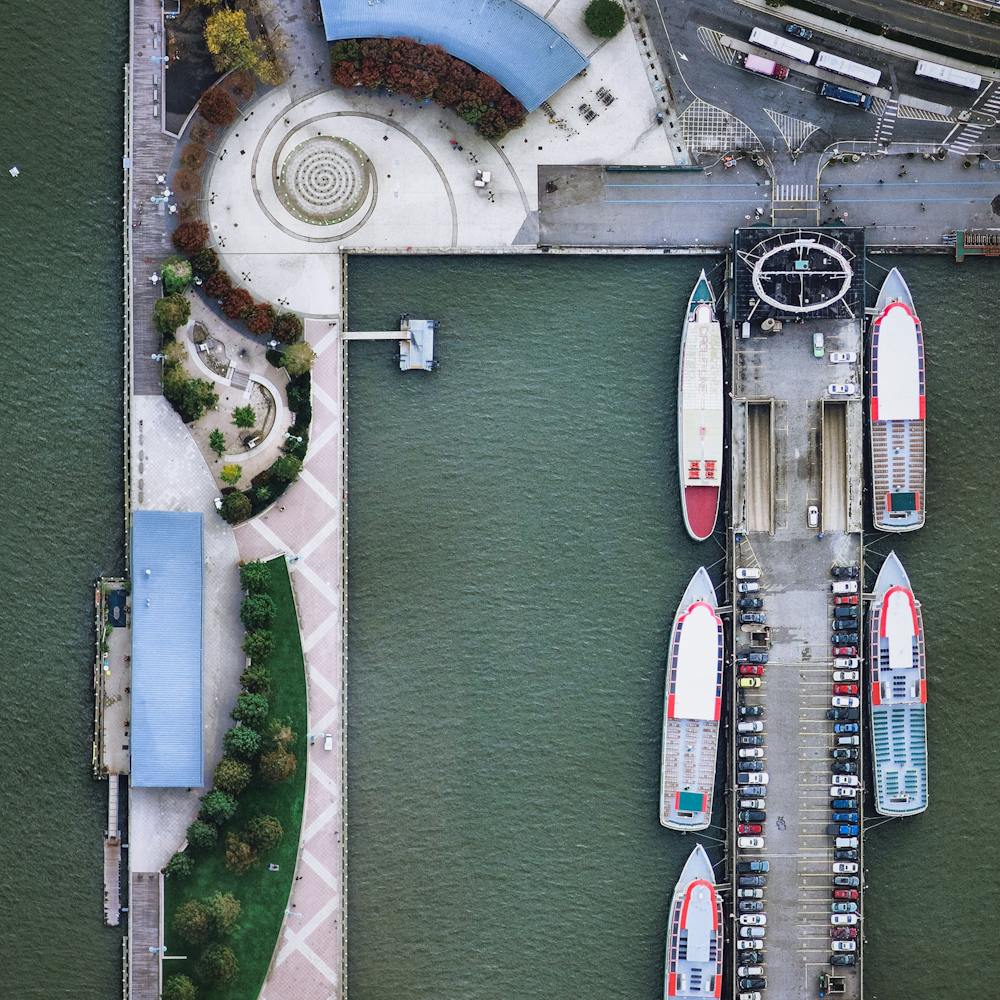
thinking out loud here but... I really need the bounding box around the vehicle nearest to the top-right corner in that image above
[912,61,981,92]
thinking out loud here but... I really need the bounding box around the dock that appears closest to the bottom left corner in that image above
[104,837,129,925]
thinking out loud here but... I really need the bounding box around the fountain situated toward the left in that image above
[276,134,370,227]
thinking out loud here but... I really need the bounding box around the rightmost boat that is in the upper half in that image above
[867,267,926,533]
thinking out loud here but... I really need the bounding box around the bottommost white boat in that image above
[665,845,723,1000]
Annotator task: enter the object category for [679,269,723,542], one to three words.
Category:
boat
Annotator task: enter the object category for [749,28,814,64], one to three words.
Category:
bus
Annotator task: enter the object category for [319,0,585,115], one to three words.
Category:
building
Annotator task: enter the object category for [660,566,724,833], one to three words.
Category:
boat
